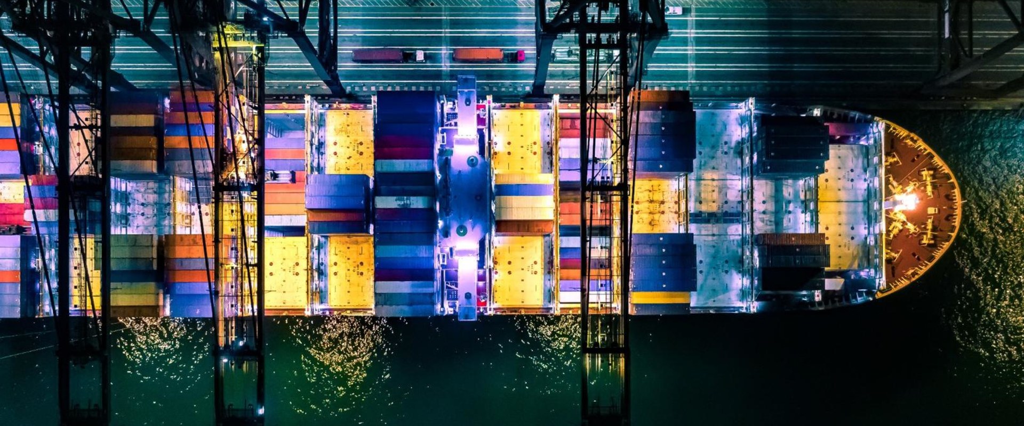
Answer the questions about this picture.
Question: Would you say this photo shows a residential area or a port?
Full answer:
This looks like a port.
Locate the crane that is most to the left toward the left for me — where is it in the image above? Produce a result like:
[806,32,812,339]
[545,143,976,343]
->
[0,0,214,426]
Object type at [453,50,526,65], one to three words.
vehicle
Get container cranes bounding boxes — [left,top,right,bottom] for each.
[0,0,214,426]
[907,0,1024,97]
[520,0,689,426]
[142,0,357,426]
